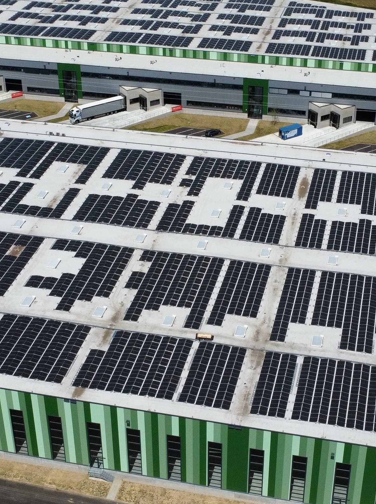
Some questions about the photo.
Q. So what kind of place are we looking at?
industrial area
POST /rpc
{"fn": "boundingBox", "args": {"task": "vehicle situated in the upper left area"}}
[66,95,123,123]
